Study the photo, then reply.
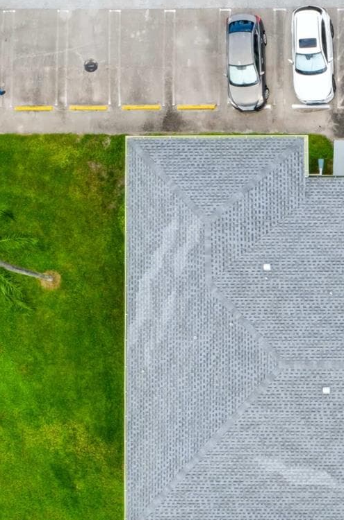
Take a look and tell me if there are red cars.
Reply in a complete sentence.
No, the frame has no red car in it.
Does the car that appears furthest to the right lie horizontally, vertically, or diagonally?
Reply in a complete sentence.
In this picture, the car that appears furthest to the right is oriented vertically.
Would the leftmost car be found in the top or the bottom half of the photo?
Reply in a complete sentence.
Seen from above, the leftmost car lies in the top half of the view.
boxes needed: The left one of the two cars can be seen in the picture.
[220,13,270,115]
